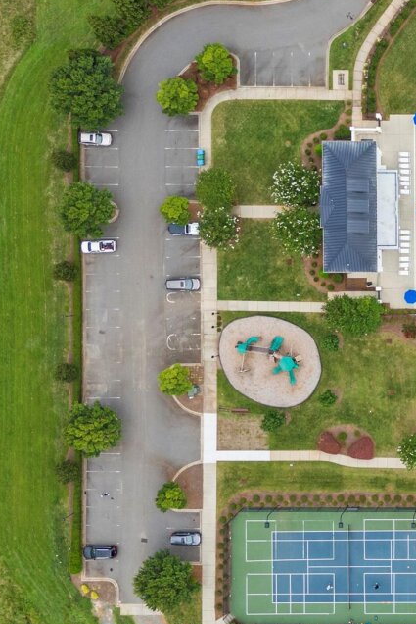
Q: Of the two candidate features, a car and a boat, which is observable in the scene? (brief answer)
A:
car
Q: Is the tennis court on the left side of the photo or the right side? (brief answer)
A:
right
